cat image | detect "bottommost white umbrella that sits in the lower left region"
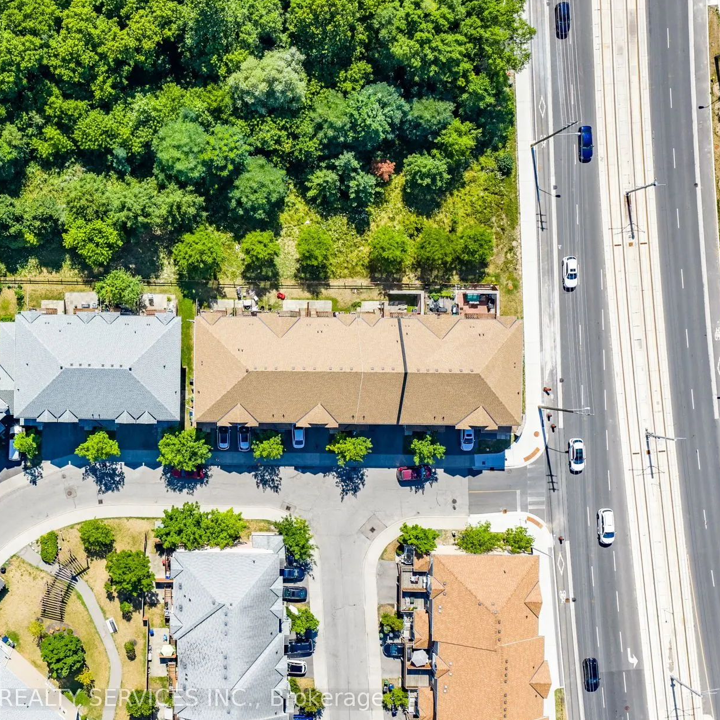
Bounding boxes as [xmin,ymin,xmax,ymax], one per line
[160,642,175,658]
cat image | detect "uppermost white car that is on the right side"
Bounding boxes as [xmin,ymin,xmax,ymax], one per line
[560,254,579,289]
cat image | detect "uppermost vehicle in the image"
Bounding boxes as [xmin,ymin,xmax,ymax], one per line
[553,0,572,38]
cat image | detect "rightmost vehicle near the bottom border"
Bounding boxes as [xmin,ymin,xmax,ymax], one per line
[581,655,601,692]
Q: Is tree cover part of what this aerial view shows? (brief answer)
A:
Yes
